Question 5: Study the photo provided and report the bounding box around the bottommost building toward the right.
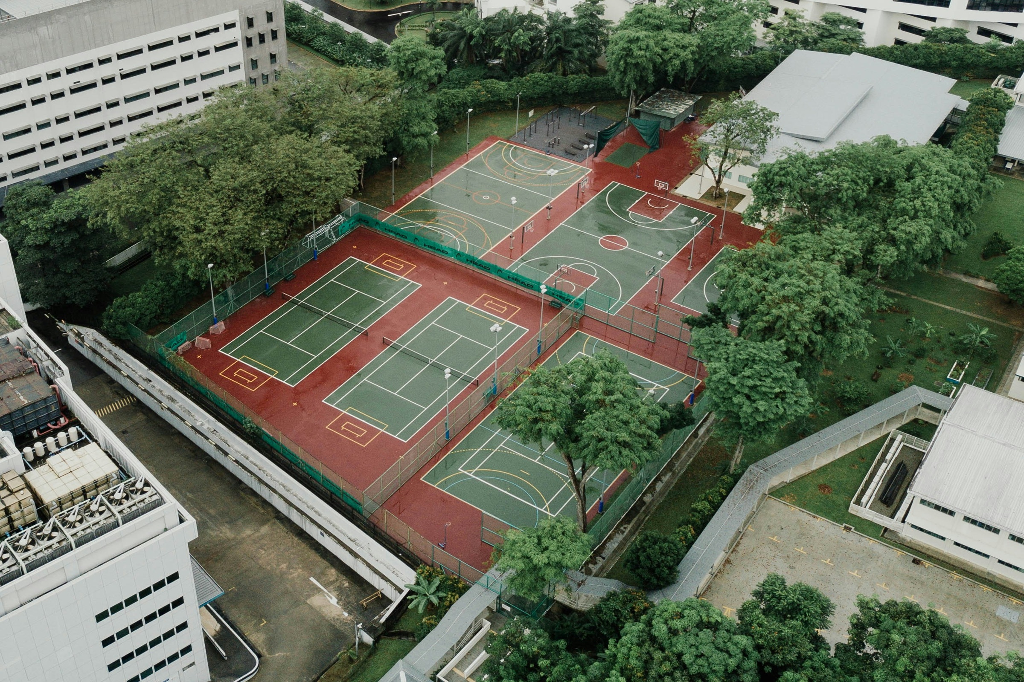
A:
[896,389,1024,587]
